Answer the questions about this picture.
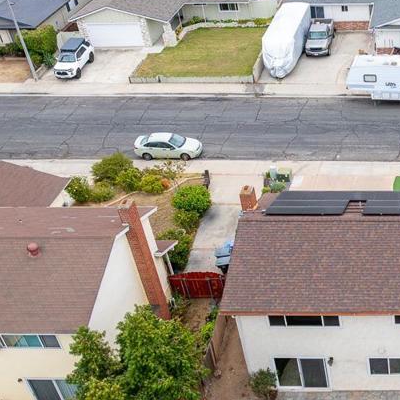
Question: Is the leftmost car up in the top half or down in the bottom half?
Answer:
top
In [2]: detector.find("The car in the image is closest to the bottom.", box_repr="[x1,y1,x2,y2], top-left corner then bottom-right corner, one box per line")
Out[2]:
[128,130,202,158]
